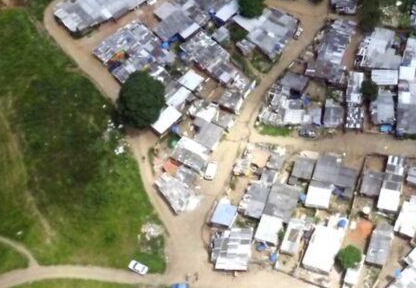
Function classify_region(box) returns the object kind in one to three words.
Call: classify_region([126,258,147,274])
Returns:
car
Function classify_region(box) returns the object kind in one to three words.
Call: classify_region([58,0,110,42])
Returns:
shed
